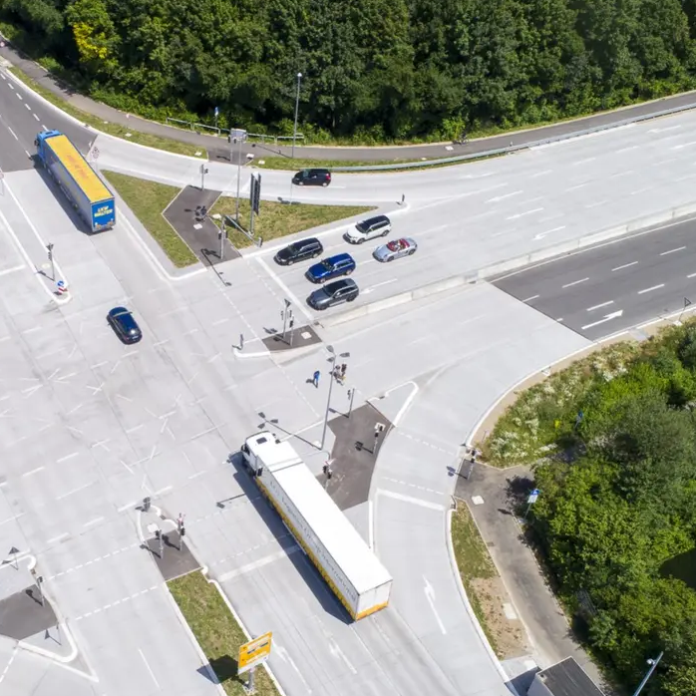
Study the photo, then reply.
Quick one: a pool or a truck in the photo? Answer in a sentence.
I can see a truck in this picture.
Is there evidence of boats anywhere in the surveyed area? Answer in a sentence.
No, I can't see a single boat in this photo.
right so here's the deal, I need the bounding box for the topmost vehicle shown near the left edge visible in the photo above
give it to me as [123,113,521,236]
[33,128,116,229]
